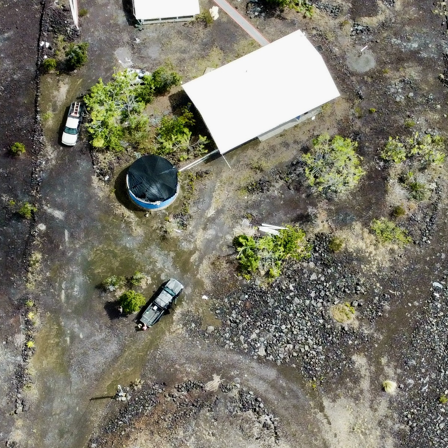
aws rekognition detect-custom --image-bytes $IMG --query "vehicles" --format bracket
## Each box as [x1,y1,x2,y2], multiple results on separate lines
[142,276,185,331]
[60,100,86,147]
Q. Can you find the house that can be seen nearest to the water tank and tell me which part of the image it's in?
top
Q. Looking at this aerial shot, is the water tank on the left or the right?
left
